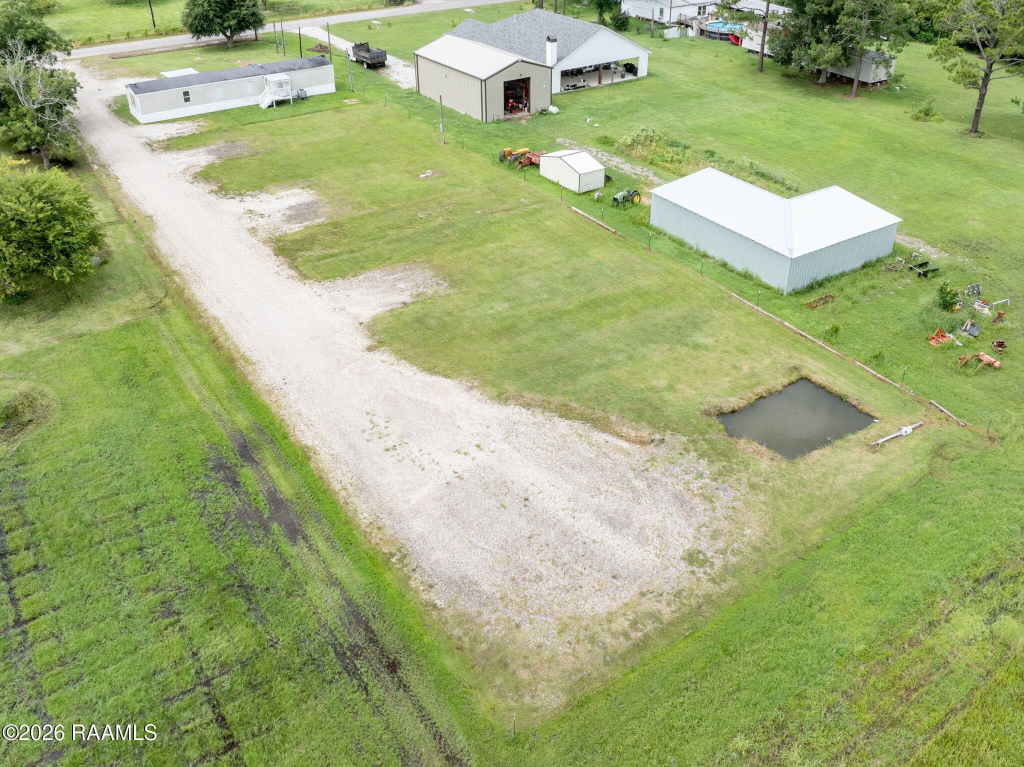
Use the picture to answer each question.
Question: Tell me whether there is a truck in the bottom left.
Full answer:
No, no truck can be made out in the bottom left.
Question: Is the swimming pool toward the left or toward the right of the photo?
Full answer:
It is on the right.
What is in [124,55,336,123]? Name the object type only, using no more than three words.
house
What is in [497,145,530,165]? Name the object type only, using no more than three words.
work vehicle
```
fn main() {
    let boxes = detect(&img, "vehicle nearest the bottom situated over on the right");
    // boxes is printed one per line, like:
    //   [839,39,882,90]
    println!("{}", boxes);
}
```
[608,183,643,207]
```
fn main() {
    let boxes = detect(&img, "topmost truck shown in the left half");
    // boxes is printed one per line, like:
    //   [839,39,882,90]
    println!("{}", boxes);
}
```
[352,42,390,68]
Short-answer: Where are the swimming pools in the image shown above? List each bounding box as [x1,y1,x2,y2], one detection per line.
[696,19,744,42]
